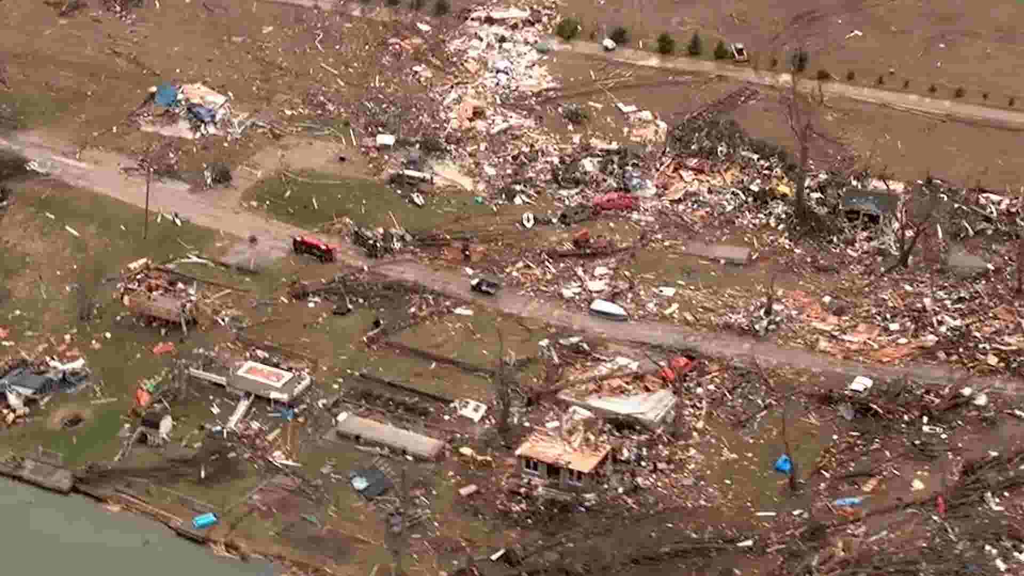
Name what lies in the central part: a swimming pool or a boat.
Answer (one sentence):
There is a boat in the central part.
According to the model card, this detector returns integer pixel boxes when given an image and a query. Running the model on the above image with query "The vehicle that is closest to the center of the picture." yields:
[469,278,502,297]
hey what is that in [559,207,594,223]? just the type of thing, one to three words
car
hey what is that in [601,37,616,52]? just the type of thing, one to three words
car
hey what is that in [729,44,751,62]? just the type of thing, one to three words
vehicle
